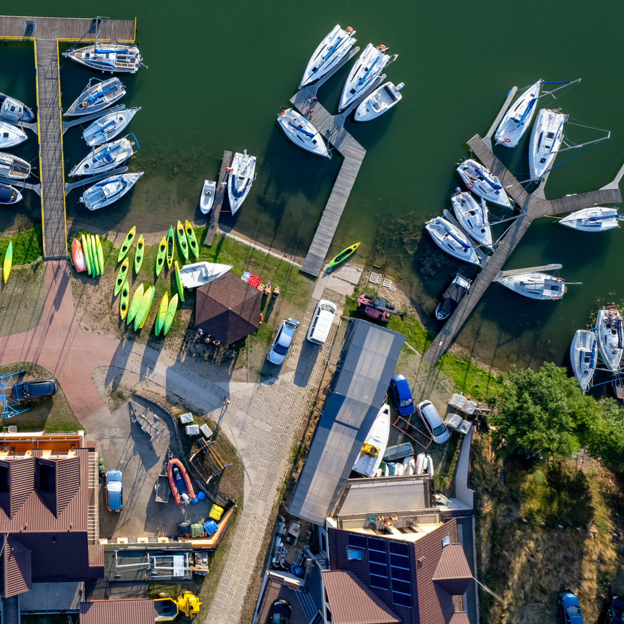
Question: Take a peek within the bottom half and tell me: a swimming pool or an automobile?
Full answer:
The one visible within the bottom half is an automobile.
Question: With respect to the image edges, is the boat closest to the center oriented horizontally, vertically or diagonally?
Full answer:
The boat closest to the center is oriented diagonally.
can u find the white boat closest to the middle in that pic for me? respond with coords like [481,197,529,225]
[180,261,234,286]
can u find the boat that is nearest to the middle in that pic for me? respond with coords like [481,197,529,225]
[331,242,361,263]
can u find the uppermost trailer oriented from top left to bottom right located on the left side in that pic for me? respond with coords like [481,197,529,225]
[130,400,171,441]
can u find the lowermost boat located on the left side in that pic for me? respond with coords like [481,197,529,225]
[166,443,197,512]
